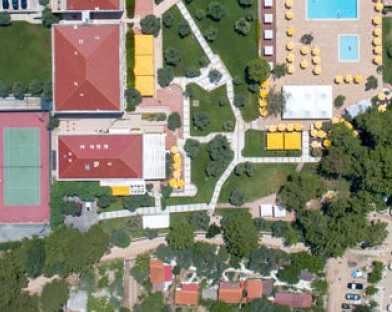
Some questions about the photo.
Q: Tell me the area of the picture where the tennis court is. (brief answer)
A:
left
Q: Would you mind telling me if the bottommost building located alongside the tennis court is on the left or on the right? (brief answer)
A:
left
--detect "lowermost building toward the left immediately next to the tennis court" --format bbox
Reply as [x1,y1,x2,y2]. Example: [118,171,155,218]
[57,127,145,186]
